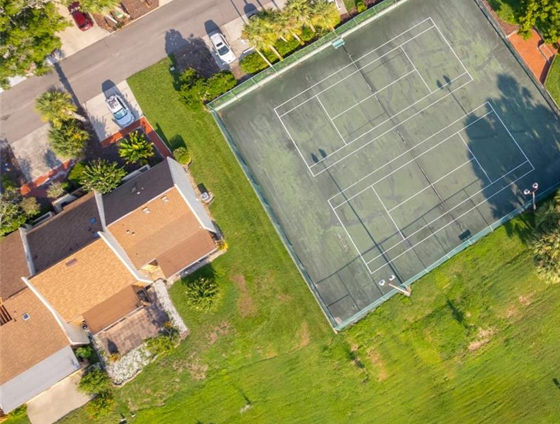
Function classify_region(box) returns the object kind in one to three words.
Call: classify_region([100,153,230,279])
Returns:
house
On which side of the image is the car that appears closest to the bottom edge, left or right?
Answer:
left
